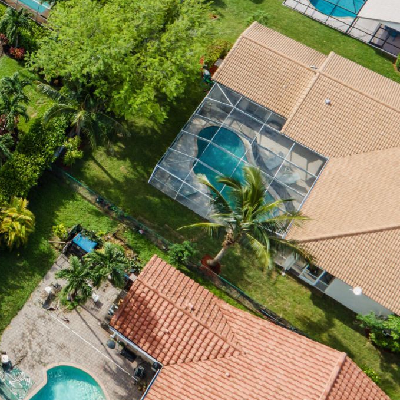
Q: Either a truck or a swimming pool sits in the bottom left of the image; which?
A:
swimming pool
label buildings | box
[106,254,391,400]
[209,21,400,315]
[352,0,400,60]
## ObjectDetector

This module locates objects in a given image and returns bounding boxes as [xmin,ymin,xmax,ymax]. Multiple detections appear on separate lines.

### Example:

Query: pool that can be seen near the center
[190,122,278,215]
